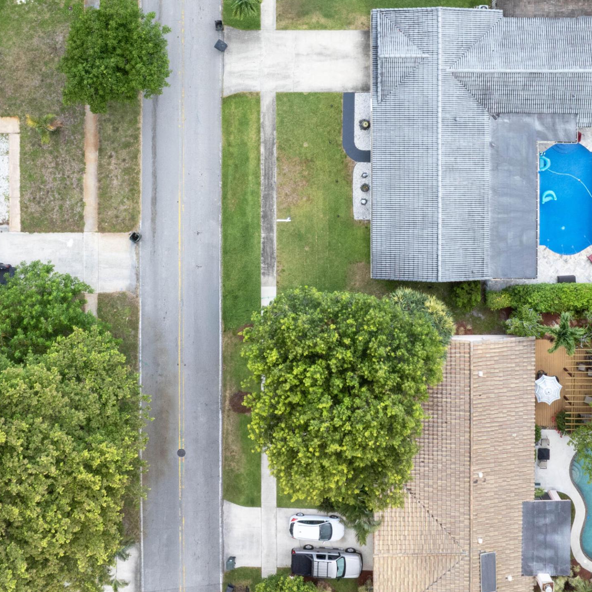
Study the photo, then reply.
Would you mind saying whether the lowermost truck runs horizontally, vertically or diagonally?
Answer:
horizontally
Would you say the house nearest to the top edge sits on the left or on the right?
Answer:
right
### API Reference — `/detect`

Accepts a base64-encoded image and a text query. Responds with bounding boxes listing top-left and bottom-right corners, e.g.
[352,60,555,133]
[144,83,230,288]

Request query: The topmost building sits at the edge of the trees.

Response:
[370,6,592,283]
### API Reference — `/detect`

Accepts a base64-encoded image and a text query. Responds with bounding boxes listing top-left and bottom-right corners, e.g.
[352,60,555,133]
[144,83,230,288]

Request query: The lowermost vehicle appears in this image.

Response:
[291,544,363,580]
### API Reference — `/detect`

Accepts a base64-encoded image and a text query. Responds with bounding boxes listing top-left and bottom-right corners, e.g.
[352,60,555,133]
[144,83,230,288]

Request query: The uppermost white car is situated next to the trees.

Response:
[290,510,345,544]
